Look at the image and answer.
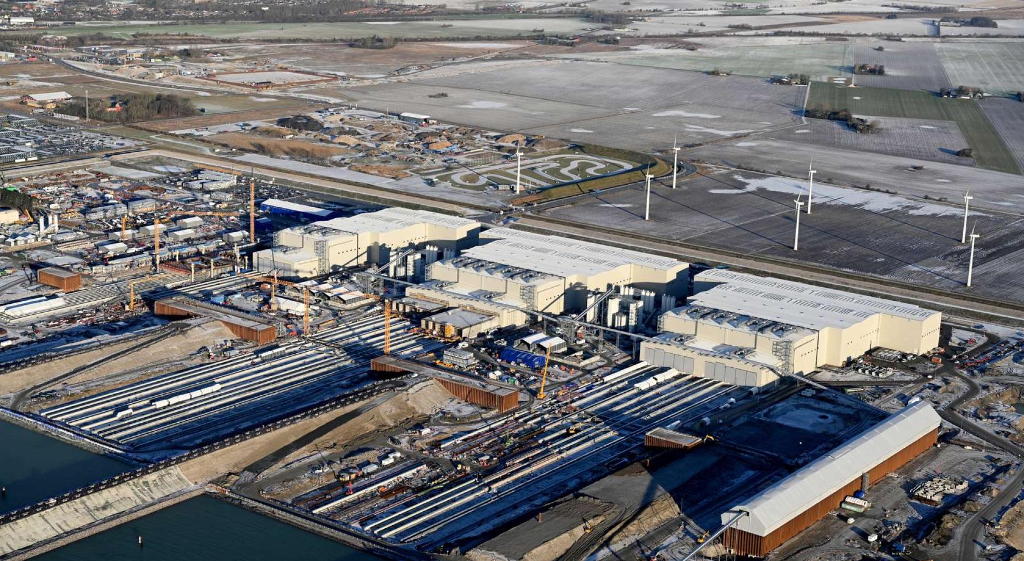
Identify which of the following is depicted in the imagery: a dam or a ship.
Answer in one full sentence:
Visible in the photo is a dam.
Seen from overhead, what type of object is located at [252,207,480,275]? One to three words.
building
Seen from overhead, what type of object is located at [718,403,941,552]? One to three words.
shed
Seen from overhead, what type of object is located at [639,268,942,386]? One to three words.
building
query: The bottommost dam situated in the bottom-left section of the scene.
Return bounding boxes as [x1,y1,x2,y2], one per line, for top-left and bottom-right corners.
[0,456,212,561]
